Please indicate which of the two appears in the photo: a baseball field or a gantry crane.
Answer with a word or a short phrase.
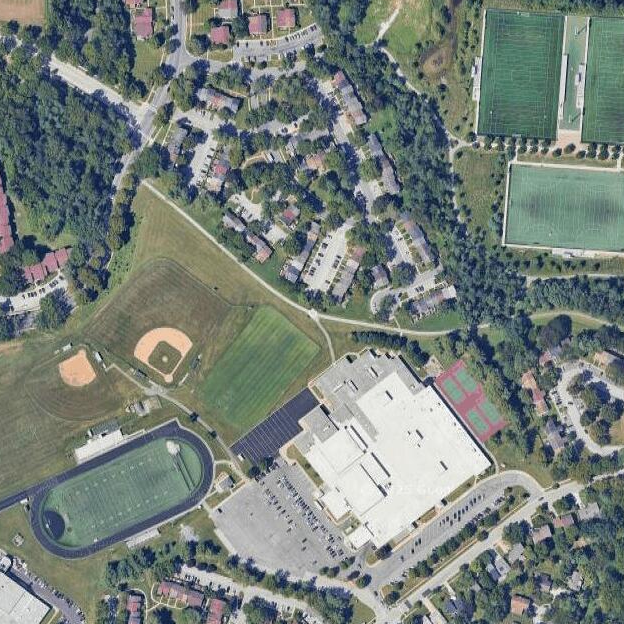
baseball field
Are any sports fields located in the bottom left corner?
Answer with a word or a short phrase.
Yes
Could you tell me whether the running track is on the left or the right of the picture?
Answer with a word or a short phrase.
left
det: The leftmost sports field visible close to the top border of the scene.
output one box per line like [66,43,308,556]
[478,11,563,141]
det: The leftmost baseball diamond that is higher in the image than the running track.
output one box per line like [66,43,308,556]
[59,350,95,387]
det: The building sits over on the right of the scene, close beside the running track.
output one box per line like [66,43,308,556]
[293,348,489,549]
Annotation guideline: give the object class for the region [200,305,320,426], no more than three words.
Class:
sports field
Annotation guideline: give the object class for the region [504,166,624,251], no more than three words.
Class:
sports field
